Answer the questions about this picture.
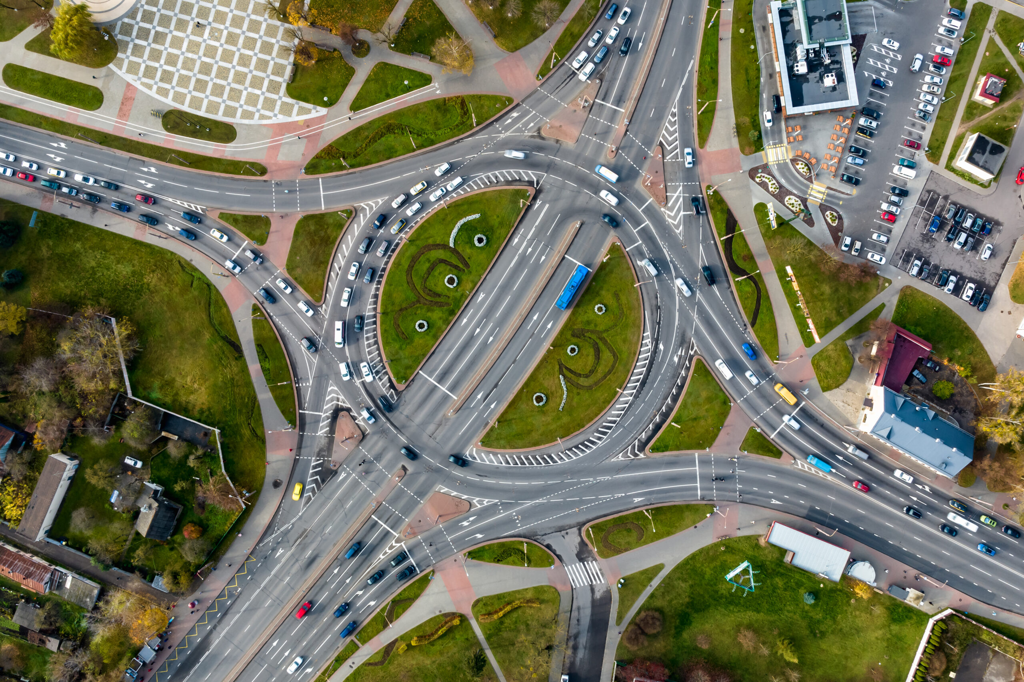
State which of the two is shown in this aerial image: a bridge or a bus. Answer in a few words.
bus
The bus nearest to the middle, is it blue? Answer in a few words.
Yes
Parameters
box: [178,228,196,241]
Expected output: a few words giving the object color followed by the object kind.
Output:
blue vehicle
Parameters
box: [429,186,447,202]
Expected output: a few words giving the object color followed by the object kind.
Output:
white car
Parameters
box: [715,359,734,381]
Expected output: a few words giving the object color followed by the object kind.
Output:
white vehicle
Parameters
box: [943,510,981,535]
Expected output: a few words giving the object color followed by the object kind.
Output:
white bus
